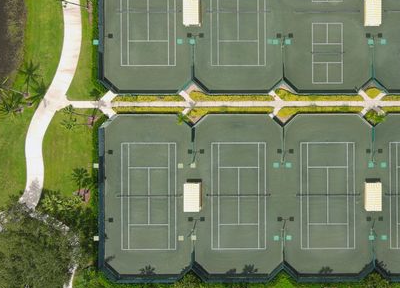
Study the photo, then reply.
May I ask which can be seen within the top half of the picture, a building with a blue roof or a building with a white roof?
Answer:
building with a white roof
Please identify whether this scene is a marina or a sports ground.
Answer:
sports ground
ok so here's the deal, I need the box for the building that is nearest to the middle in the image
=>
[184,182,202,212]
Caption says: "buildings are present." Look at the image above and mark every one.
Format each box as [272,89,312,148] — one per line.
[184,0,201,26]
[364,181,381,211]
[365,0,381,27]
[184,182,202,212]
